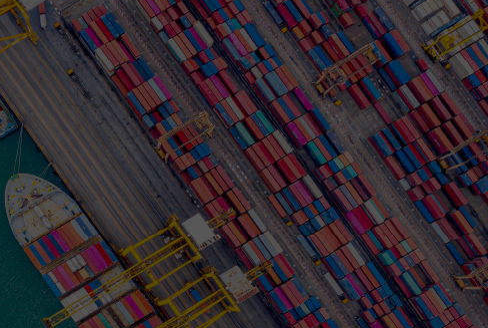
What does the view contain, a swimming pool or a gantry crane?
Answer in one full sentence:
Looking from above, you can make out a gantry crane.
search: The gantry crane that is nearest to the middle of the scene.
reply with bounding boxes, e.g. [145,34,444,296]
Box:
[153,112,217,163]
